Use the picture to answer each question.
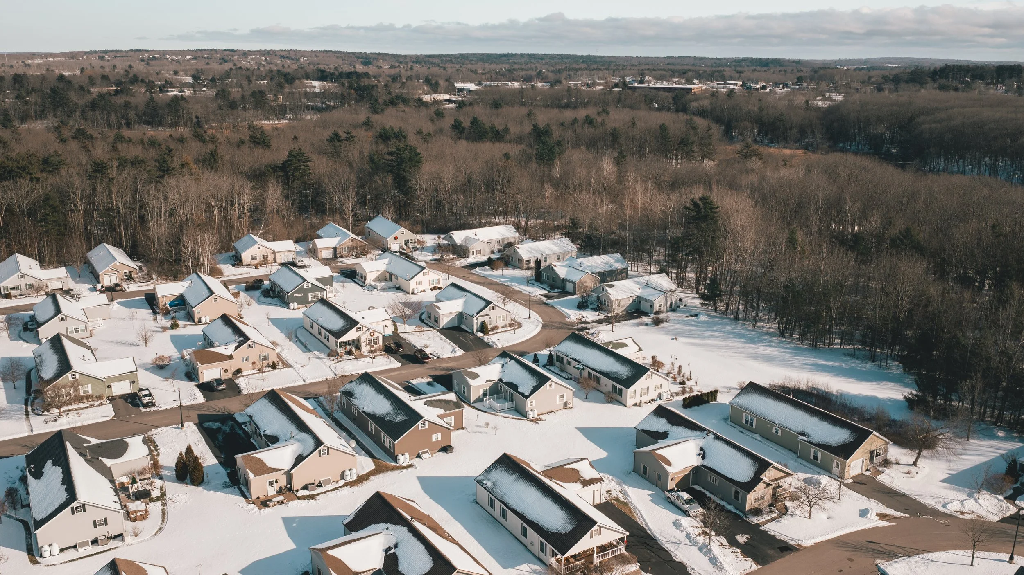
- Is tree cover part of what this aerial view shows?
Yes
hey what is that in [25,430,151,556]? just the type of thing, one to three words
house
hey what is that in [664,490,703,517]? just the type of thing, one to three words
truck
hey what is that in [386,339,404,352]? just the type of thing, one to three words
vehicle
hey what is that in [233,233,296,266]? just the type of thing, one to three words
house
